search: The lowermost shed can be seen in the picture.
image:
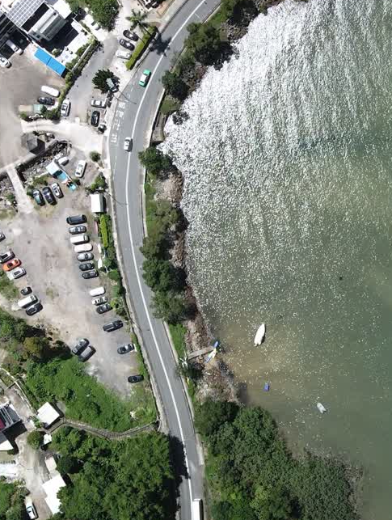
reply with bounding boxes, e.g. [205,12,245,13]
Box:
[42,472,69,515]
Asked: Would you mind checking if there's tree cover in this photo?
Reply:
Yes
